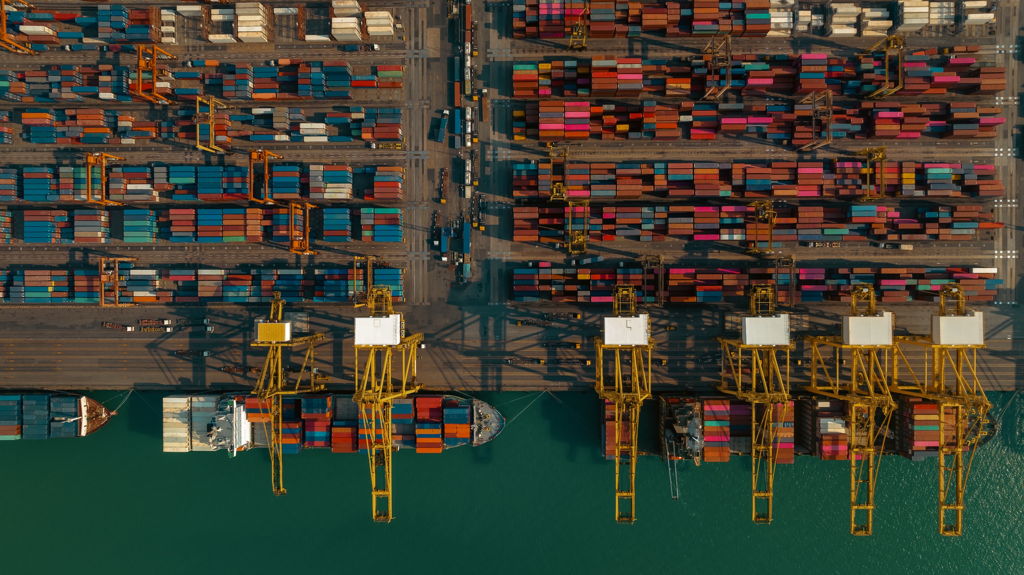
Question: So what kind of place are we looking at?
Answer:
port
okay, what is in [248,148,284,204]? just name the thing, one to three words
container crane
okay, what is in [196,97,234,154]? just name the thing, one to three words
container crane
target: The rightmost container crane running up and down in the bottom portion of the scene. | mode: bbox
[866,279,996,538]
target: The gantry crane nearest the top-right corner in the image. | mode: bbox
[861,37,906,99]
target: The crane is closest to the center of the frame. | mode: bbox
[564,202,590,254]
